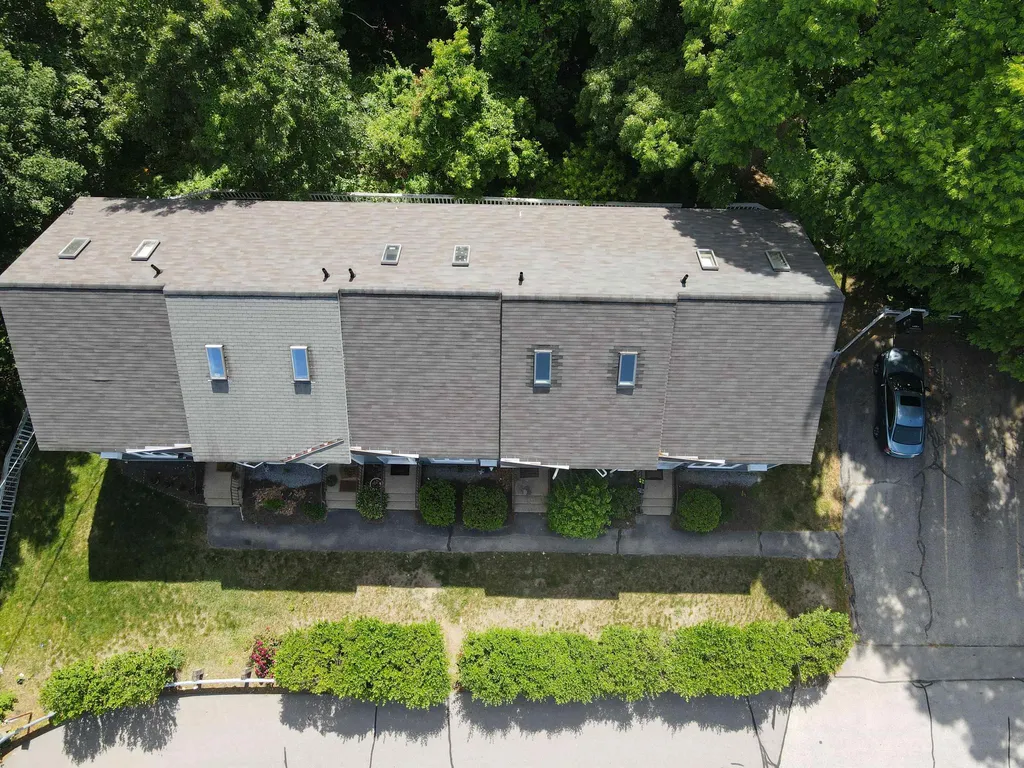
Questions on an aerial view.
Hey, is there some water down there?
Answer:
No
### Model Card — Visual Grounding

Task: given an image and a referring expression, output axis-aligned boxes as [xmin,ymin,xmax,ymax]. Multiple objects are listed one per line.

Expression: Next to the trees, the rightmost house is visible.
[643,197,844,514]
